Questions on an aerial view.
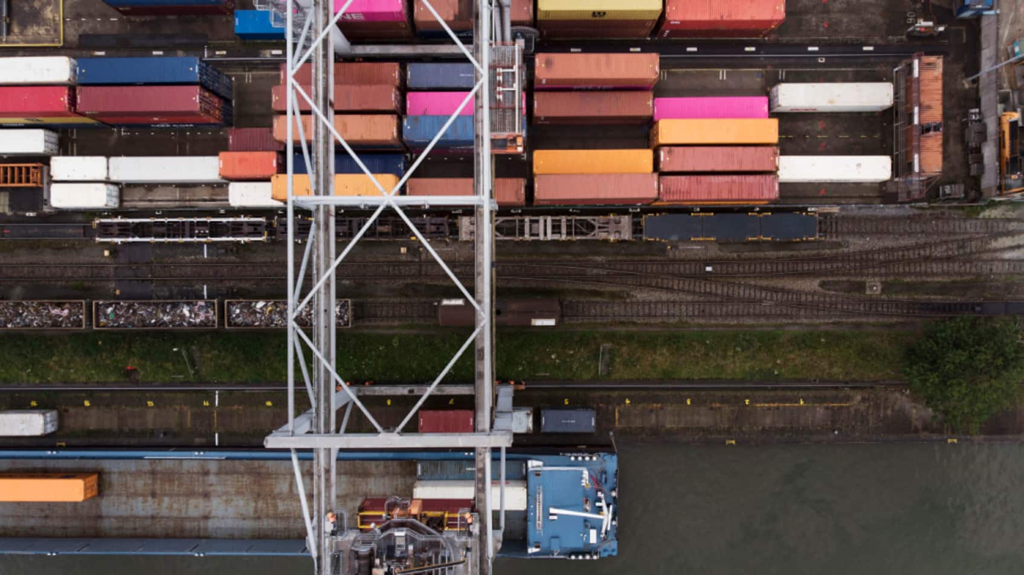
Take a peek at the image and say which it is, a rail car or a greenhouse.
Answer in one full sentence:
Of the two, only a rail car appears.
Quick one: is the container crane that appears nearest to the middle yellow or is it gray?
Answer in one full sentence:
The container crane that appears nearest to the middle is gray.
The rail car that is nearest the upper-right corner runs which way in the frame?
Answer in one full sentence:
The rail car that is nearest the upper-right corner has been laid out horizontally relative to the frame.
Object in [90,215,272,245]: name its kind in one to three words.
rail car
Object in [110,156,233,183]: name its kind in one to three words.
shipping container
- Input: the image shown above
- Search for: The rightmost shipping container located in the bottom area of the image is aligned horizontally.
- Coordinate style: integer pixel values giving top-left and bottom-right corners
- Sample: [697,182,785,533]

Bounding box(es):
[541,407,598,433]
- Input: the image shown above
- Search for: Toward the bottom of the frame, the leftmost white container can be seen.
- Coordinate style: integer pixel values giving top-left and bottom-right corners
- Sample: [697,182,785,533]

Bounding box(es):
[0,409,60,436]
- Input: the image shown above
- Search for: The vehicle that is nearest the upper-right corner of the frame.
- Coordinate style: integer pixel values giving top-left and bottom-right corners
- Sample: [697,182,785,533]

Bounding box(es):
[904,0,944,39]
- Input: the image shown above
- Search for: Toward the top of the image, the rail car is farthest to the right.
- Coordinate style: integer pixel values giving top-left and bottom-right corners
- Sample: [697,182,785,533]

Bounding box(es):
[639,213,823,240]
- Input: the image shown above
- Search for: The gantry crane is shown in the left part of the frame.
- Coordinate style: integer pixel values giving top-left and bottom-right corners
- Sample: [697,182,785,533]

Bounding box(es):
[260,0,539,575]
